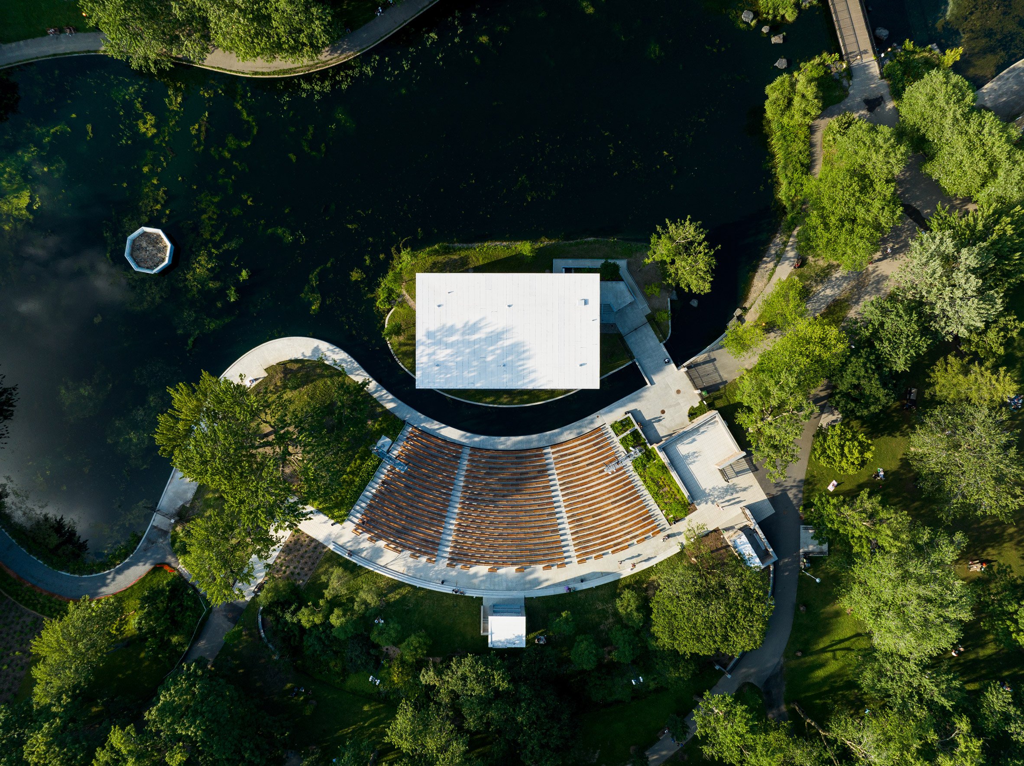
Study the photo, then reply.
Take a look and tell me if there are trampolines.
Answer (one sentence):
No, no trampoline can be seen from above.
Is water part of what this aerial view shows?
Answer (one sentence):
Yes, water shows up in the scene.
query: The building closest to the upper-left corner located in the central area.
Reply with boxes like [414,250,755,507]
[416,273,600,389]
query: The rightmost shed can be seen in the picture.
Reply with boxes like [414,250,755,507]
[723,504,778,568]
